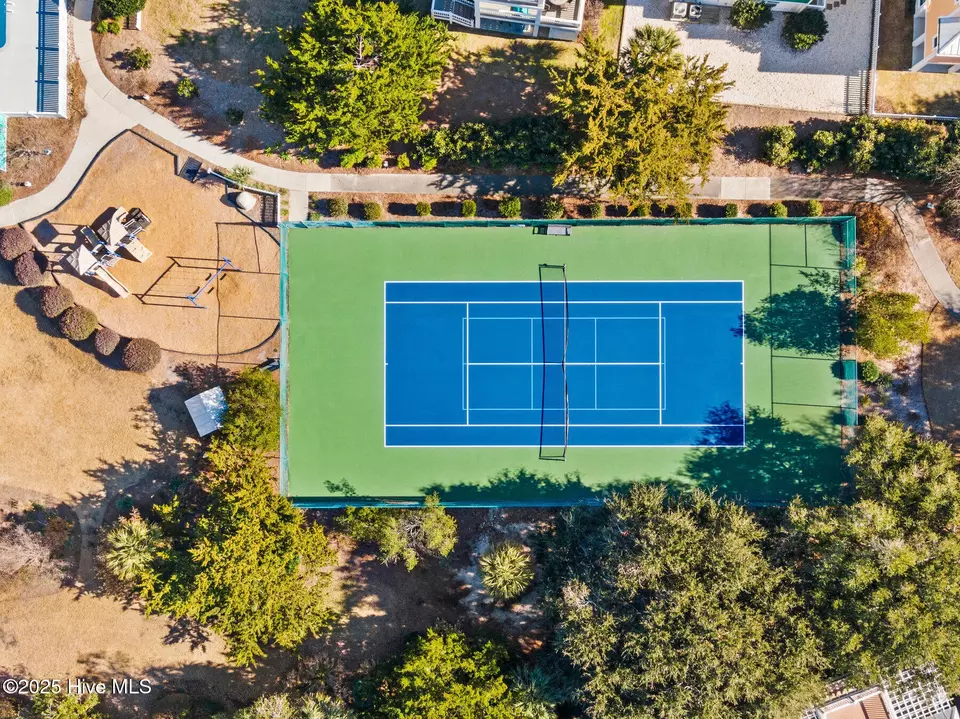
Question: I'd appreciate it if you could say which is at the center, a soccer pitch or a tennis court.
tennis court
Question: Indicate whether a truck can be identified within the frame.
No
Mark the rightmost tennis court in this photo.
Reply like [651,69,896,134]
[289,224,842,501]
